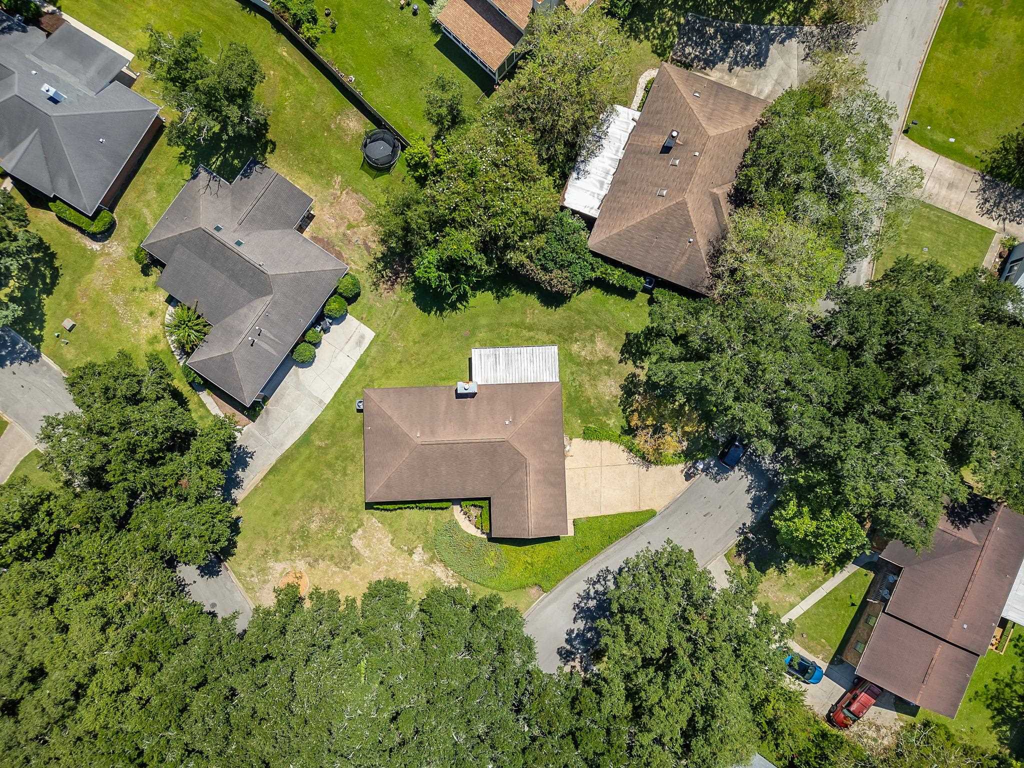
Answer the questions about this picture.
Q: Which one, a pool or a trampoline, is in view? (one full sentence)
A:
Visible in the photo is a trampoline.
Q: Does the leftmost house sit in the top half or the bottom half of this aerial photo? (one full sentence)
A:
The top half of the photo is where the leftmost house is.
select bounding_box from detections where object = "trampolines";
[357,118,400,168]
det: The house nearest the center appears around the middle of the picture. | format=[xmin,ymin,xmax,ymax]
[362,381,569,539]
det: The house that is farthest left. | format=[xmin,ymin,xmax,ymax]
[0,11,167,217]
